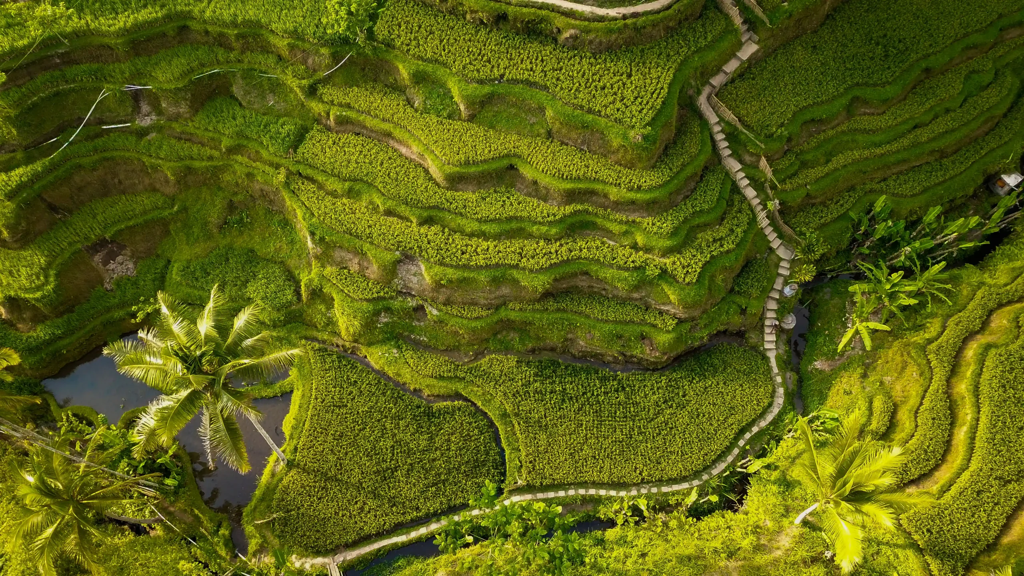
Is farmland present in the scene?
Yes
